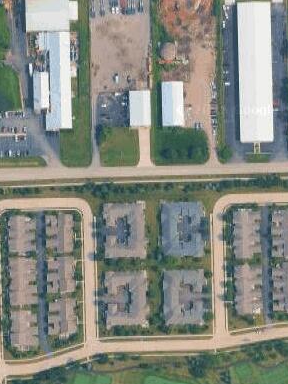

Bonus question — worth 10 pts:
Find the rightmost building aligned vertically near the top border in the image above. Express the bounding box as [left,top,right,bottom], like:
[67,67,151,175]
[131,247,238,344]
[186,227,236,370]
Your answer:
[238,3,273,143]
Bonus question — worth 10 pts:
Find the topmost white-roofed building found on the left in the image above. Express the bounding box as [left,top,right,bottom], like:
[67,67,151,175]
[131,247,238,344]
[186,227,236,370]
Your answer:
[25,0,79,32]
